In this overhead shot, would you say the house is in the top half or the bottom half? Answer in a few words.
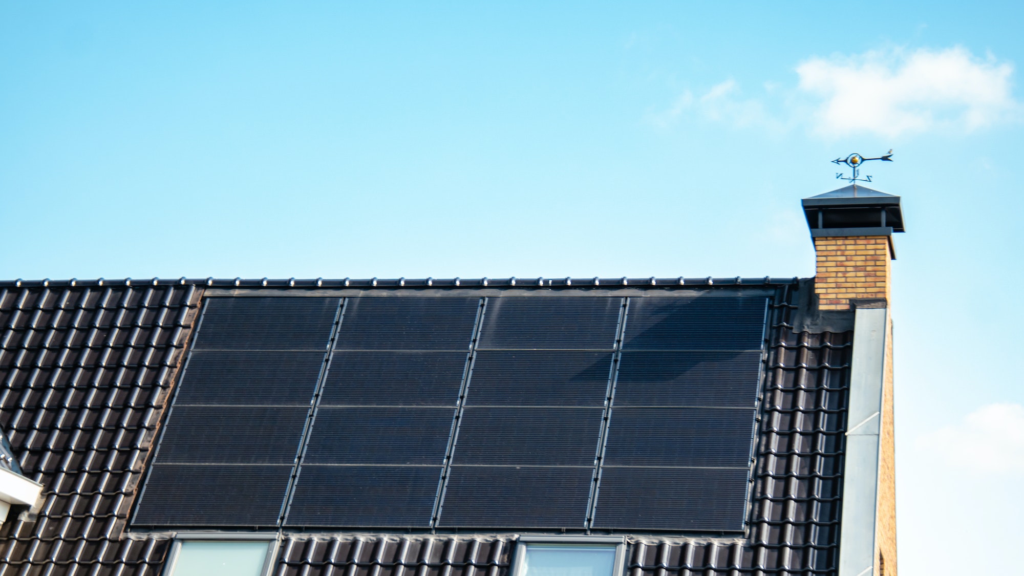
bottom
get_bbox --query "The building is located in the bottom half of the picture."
[0,183,903,576]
